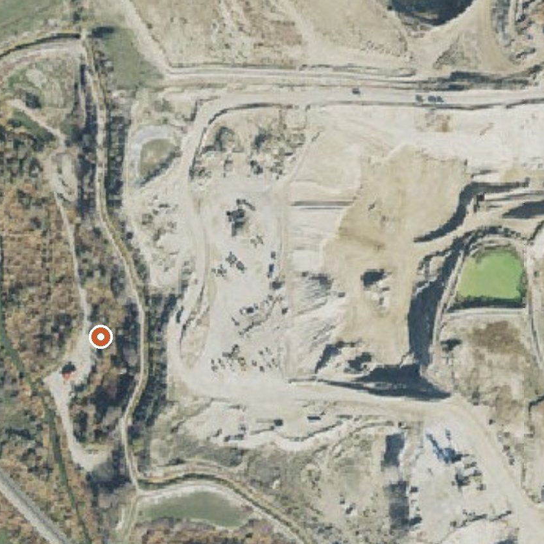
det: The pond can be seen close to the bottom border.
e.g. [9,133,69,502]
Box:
[137,490,249,526]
